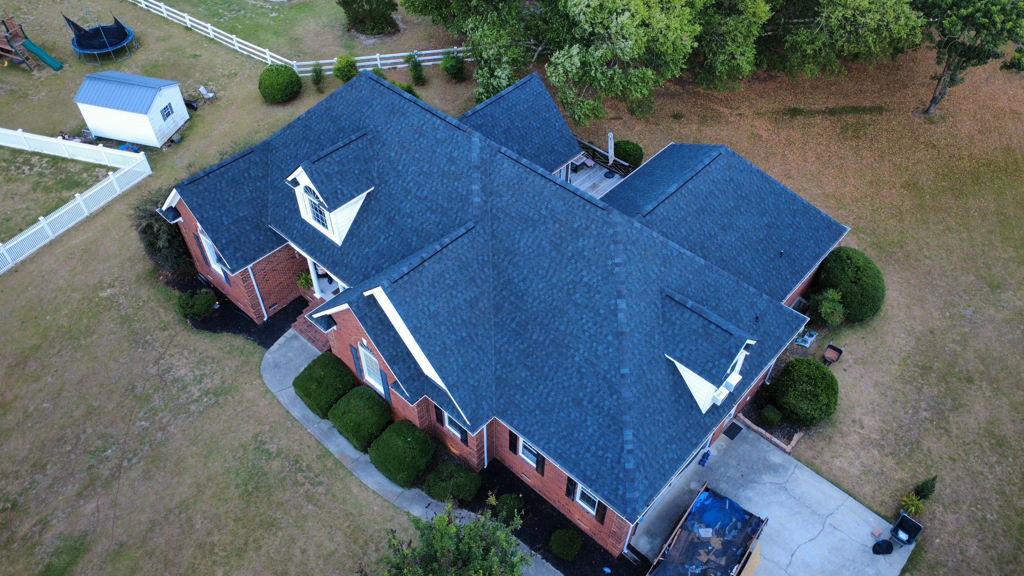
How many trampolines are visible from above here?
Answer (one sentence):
My tally gives 1 trampoline in this photo.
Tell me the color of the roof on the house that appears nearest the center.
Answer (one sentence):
From above, the roof of the house that appears nearest the center looks blue.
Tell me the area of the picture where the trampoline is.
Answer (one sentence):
The trampoline sits in the top left section of the image.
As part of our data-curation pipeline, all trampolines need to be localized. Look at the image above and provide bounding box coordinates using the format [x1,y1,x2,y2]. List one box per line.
[59,9,139,69]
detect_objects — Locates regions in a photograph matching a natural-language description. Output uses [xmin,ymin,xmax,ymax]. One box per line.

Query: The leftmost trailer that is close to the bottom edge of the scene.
[646,474,772,576]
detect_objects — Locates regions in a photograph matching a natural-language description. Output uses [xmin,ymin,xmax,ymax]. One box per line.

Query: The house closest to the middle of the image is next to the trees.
[153,71,853,562]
